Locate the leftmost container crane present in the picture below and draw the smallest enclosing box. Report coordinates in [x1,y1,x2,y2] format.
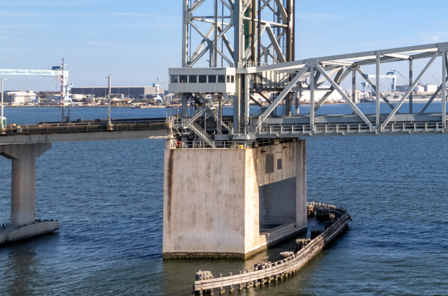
[0,67,69,94]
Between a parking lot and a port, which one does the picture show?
port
